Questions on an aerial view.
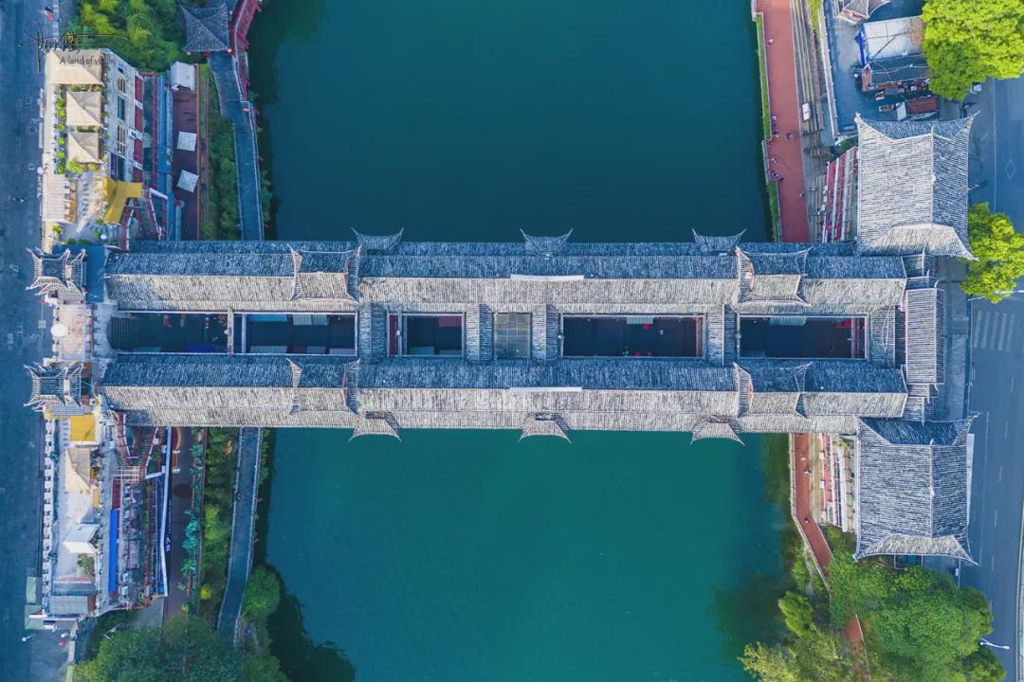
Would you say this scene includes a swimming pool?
No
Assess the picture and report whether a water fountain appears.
No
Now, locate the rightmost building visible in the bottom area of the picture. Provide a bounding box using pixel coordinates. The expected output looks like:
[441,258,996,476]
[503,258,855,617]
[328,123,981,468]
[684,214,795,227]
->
[857,416,980,564]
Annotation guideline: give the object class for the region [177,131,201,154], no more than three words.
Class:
tent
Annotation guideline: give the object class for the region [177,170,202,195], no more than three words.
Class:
tent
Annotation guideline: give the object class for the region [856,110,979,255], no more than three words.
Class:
building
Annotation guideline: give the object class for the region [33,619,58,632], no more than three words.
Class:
vehicle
